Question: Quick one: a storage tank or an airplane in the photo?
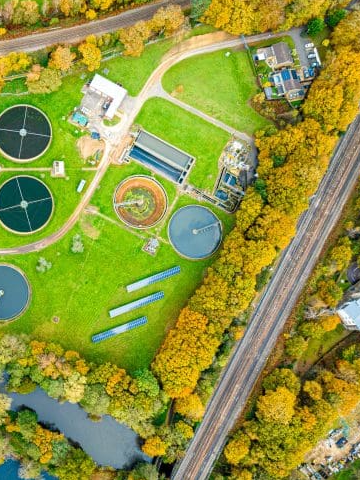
storage tank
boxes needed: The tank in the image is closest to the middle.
[167,203,223,259]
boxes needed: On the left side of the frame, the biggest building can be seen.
[90,75,127,119]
